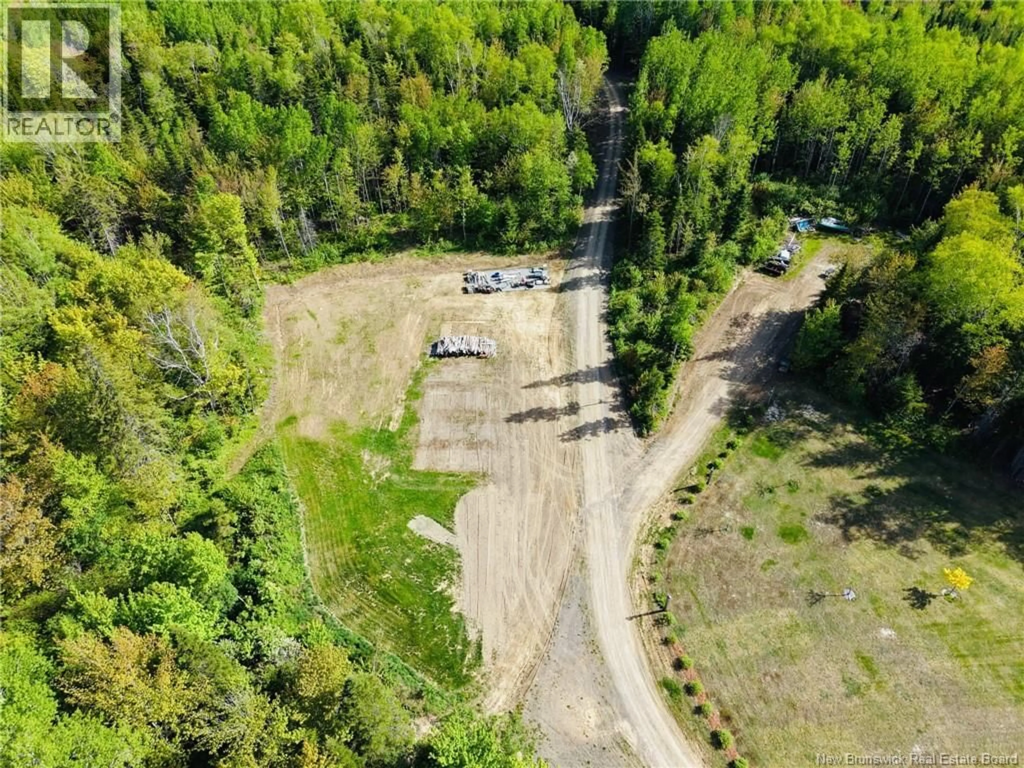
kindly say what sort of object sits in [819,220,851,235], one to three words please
boat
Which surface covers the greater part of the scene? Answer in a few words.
trees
